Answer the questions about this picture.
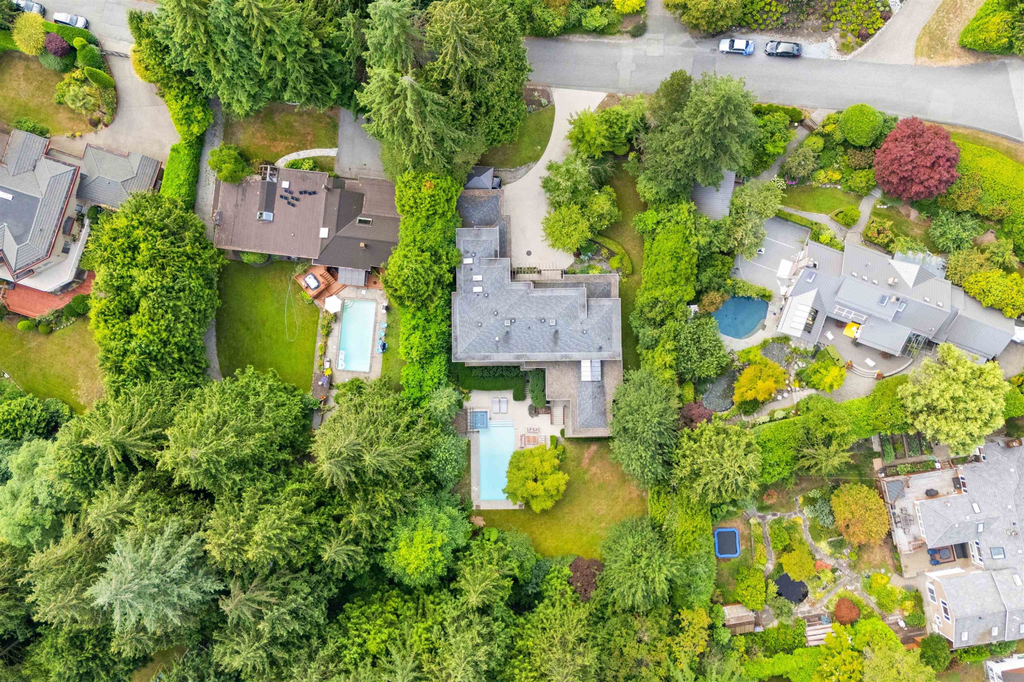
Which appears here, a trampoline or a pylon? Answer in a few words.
trampoline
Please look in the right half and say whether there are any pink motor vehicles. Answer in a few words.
No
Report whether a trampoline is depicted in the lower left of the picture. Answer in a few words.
No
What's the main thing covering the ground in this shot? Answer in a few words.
trees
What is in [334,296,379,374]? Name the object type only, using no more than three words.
swimming pool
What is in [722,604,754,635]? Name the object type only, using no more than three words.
shed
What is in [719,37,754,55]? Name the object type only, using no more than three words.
car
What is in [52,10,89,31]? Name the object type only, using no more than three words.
car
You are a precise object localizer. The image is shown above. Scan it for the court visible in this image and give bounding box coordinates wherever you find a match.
[728,215,811,303]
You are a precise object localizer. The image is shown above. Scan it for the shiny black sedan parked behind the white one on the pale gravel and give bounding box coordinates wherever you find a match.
[764,40,804,57]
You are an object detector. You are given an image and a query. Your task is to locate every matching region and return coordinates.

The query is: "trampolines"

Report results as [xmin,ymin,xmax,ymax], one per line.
[716,529,742,560]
